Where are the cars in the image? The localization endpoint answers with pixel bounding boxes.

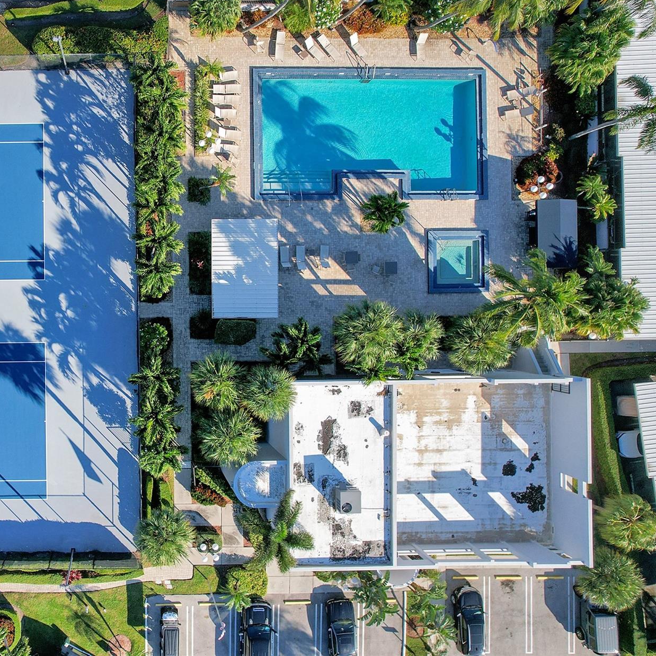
[325,599,360,656]
[611,427,643,456]
[611,391,638,418]
[448,584,487,656]
[153,608,184,656]
[575,580,619,656]
[243,599,277,656]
